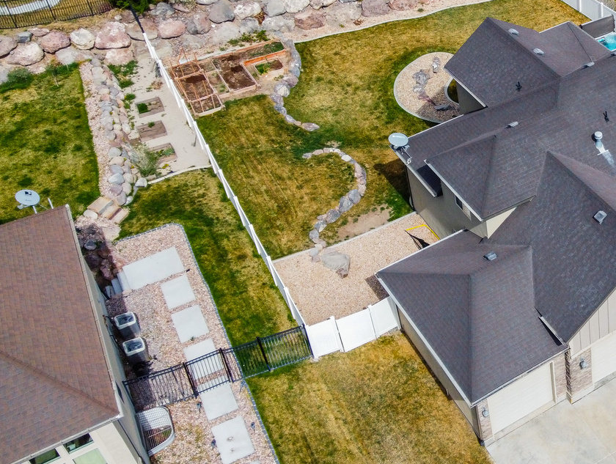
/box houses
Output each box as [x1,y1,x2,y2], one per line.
[0,206,138,464]
[373,18,616,452]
